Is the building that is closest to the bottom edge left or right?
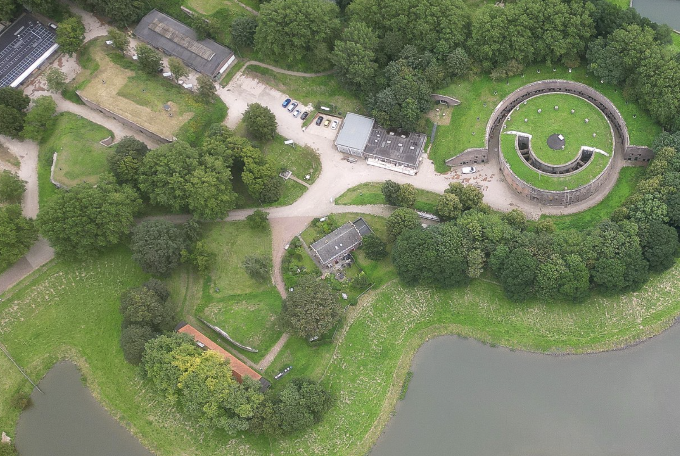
left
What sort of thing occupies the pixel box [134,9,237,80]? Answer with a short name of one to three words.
shed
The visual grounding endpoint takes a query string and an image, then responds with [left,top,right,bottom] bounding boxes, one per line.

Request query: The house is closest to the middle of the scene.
[310,217,375,266]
